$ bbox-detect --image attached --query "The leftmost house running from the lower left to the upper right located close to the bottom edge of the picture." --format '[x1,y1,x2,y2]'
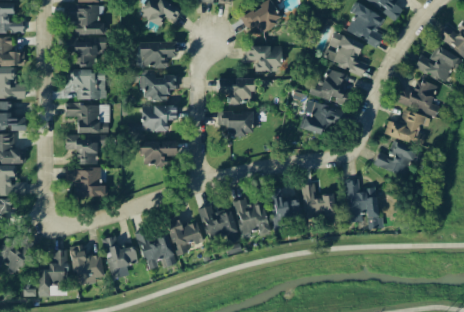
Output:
[37,250,70,299]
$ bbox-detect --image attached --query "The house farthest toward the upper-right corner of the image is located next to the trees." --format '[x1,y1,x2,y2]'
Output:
[440,24,464,60]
